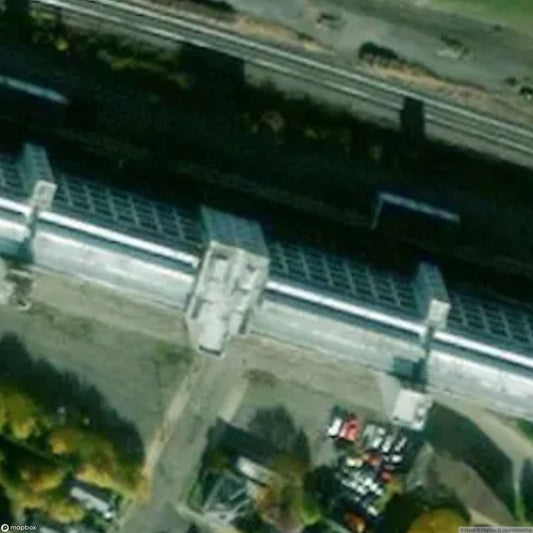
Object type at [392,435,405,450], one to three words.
vehicle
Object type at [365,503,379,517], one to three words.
car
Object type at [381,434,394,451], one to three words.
vehicle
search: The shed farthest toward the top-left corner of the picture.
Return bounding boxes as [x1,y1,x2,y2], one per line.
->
[0,76,68,136]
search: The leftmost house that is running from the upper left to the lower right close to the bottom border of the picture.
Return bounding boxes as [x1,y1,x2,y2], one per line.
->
[67,471,117,513]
